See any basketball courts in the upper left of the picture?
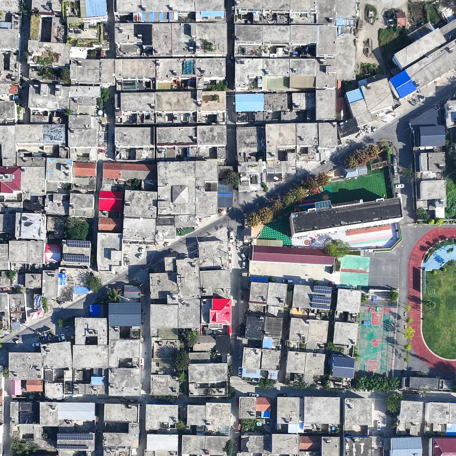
No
